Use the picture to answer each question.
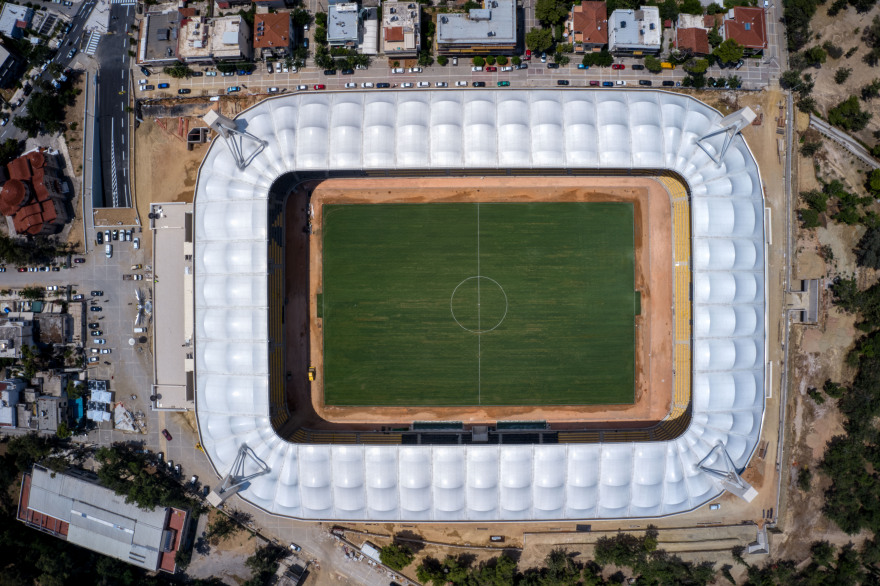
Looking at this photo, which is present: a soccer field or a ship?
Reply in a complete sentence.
There is a soccer field in the scene.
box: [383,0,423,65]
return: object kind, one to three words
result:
house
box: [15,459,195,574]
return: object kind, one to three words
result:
building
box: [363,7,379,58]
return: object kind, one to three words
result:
shed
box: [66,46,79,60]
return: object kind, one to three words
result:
vehicle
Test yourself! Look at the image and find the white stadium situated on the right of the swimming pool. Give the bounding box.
[193,90,767,520]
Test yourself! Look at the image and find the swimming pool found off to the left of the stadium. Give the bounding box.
[68,396,84,421]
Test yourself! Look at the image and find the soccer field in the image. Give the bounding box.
[317,202,641,406]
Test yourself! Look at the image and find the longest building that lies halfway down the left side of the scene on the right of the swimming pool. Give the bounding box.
[150,203,195,411]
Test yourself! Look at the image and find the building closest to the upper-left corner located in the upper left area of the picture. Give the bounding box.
[0,2,46,46]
